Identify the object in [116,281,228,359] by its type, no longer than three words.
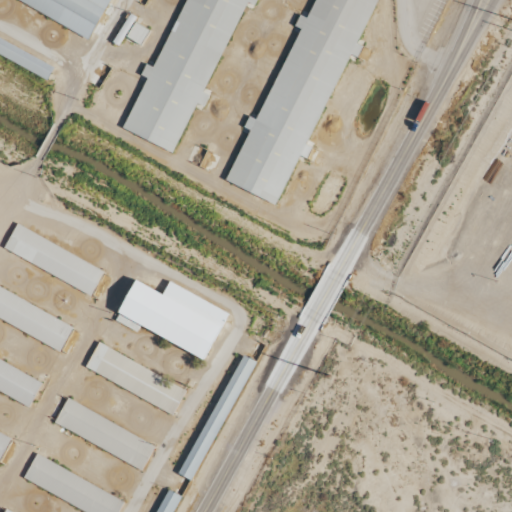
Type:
barn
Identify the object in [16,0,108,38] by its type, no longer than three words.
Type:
barn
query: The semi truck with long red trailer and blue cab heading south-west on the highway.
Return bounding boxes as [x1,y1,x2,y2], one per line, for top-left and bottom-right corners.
[408,101,427,130]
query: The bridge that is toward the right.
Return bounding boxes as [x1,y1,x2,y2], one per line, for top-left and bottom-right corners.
[262,226,372,396]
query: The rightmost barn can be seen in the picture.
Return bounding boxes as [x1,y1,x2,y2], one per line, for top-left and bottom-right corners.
[226,0,377,204]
